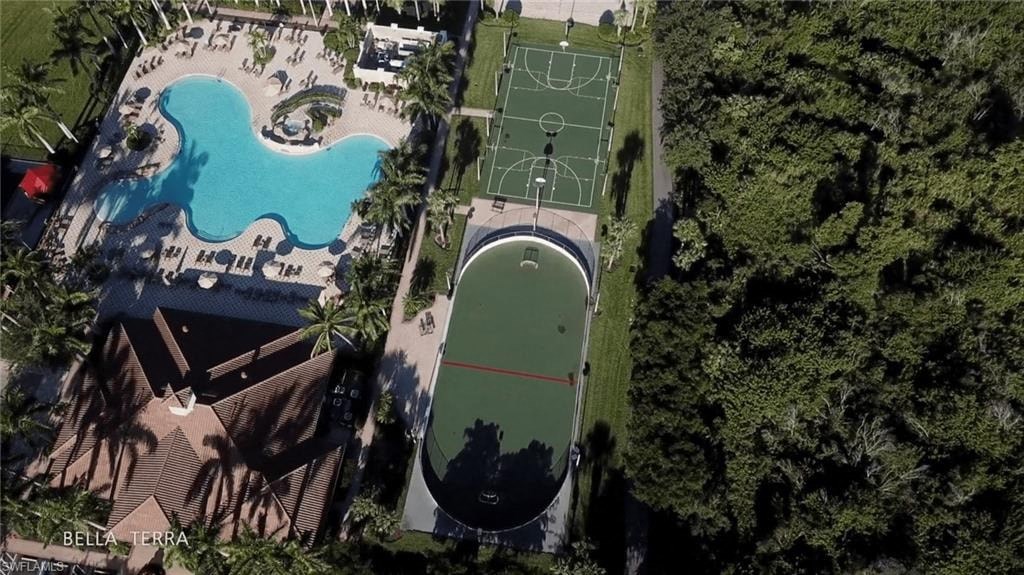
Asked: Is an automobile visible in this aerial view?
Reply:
No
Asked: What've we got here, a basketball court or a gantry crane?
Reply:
basketball court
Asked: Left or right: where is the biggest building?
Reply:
left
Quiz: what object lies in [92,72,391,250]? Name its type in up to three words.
swimming pool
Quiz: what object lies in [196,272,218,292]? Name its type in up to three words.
umbrella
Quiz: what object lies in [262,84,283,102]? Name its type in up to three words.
umbrella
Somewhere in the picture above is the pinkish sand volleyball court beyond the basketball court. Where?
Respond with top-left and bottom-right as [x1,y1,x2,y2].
[519,0,637,24]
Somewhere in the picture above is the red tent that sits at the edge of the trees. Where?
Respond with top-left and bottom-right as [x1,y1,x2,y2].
[18,164,61,202]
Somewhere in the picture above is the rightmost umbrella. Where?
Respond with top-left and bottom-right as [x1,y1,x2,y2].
[376,96,396,114]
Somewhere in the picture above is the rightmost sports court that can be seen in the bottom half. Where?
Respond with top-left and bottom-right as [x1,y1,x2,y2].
[418,228,592,534]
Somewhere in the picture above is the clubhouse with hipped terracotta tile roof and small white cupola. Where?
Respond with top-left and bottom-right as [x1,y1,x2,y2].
[46,306,341,554]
